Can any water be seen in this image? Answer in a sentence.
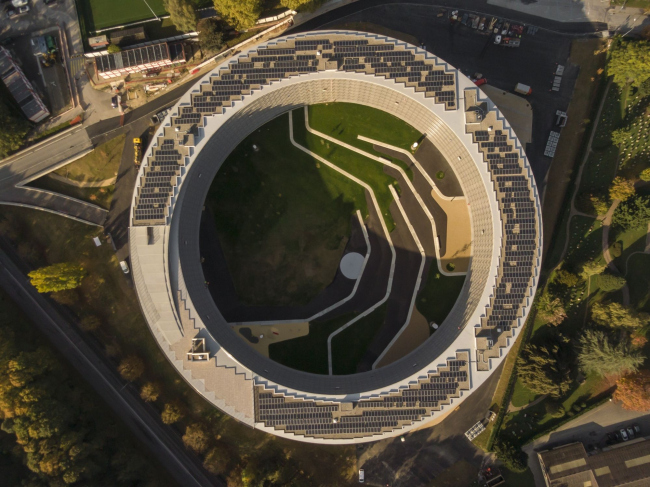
No, no water is visible.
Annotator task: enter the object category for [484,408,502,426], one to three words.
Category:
vehicle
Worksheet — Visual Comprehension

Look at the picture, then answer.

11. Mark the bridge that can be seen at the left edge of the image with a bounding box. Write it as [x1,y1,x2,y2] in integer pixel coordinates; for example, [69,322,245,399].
[0,124,95,193]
